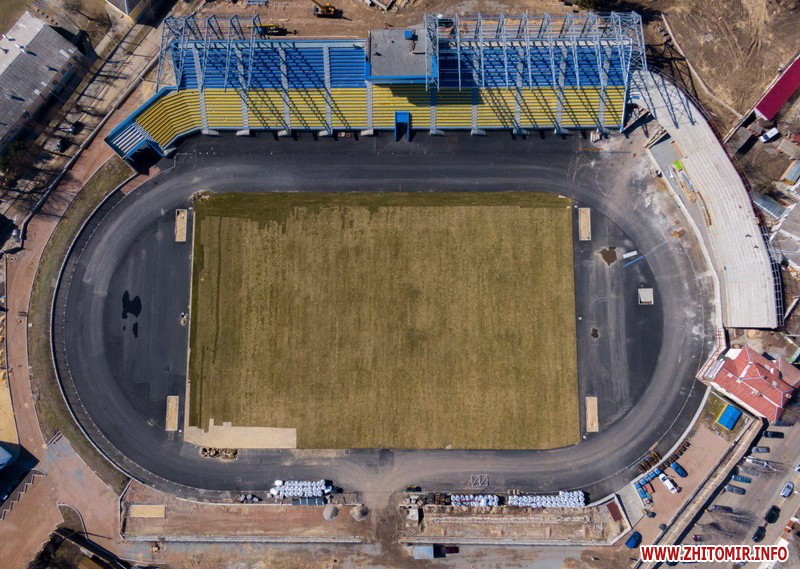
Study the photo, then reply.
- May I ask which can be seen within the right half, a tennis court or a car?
car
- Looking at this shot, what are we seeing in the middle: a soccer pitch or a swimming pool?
soccer pitch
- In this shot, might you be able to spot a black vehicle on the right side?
Yes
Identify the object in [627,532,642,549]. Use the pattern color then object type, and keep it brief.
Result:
blue car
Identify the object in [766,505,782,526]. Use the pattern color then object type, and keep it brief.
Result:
black car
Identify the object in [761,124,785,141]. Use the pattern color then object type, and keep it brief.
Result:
white vehicle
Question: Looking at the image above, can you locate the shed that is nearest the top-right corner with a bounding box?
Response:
[748,54,800,119]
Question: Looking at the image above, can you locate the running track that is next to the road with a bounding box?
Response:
[52,116,721,506]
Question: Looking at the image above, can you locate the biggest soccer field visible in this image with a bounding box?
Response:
[184,194,580,449]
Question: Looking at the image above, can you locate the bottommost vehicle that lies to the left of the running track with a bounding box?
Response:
[7,224,20,244]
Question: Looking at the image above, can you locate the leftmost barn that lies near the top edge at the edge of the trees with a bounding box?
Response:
[0,13,84,156]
